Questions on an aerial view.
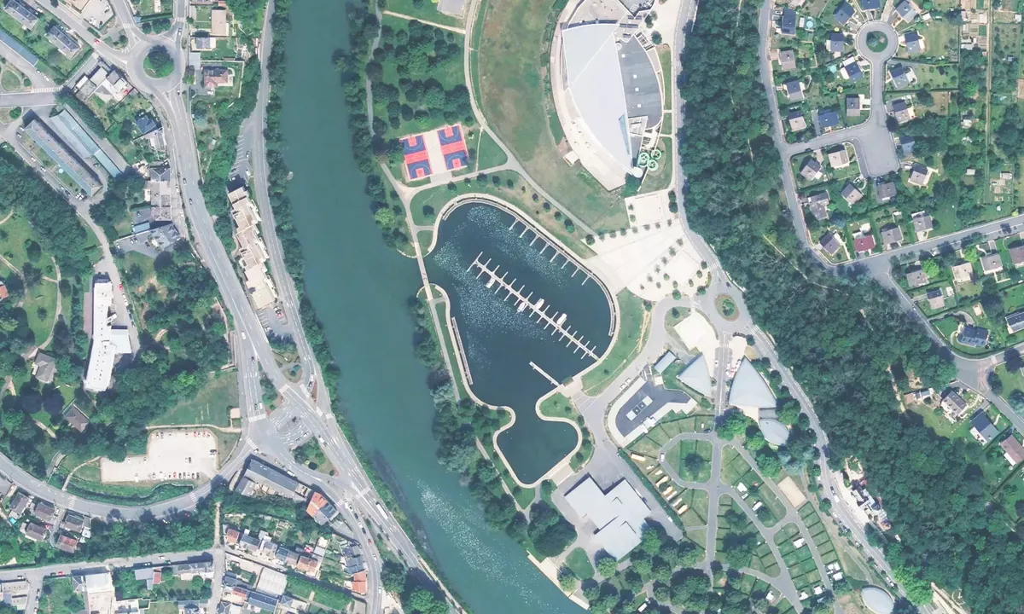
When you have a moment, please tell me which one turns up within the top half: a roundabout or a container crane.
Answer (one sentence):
There is a roundabout within the top half.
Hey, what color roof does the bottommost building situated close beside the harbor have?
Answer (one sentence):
The roof over the bottommost building situated close beside the harbor appears white.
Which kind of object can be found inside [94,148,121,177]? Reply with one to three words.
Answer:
shed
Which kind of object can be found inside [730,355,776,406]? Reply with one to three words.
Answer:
building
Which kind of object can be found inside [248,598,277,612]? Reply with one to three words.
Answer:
house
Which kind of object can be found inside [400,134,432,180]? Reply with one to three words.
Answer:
basketball court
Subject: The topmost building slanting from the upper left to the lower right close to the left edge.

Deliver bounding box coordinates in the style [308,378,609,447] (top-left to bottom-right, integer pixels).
[1,0,38,29]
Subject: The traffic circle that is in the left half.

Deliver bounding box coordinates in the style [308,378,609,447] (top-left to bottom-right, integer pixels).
[131,32,187,89]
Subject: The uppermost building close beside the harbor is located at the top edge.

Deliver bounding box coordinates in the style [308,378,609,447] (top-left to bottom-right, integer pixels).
[551,0,663,191]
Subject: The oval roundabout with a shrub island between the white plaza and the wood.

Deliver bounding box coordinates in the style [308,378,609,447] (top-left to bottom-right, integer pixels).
[704,286,748,330]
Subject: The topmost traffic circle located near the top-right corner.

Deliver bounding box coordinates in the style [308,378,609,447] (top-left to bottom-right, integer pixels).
[854,18,900,64]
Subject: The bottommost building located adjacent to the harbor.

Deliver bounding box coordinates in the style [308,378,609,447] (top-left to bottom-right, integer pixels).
[565,477,651,561]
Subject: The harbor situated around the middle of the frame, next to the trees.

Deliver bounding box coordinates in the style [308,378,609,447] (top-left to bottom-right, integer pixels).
[424,194,621,490]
